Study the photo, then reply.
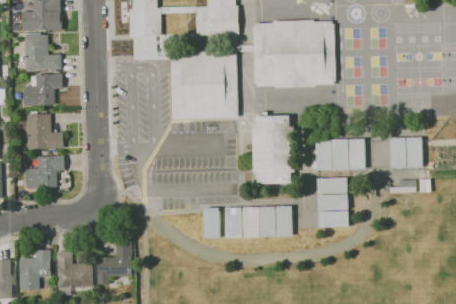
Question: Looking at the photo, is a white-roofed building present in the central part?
Yes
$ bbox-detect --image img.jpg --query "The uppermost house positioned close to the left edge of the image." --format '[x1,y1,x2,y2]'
[20,0,62,32]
